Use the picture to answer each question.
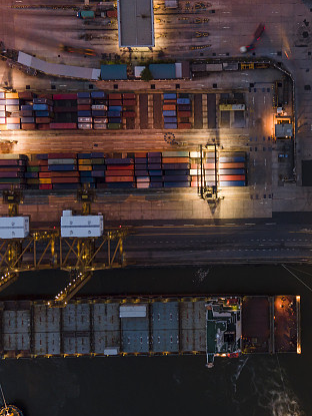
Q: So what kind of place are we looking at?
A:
port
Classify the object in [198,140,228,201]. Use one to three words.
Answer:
container crane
